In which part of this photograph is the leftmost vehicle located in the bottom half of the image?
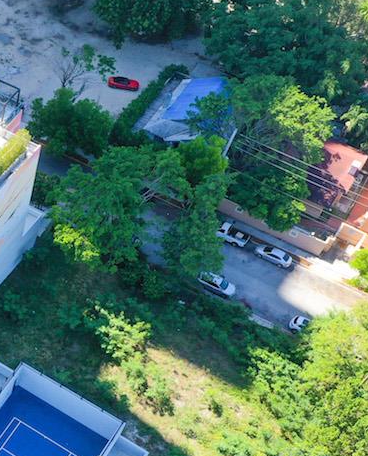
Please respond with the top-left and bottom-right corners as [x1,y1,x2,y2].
[199,263,241,293]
